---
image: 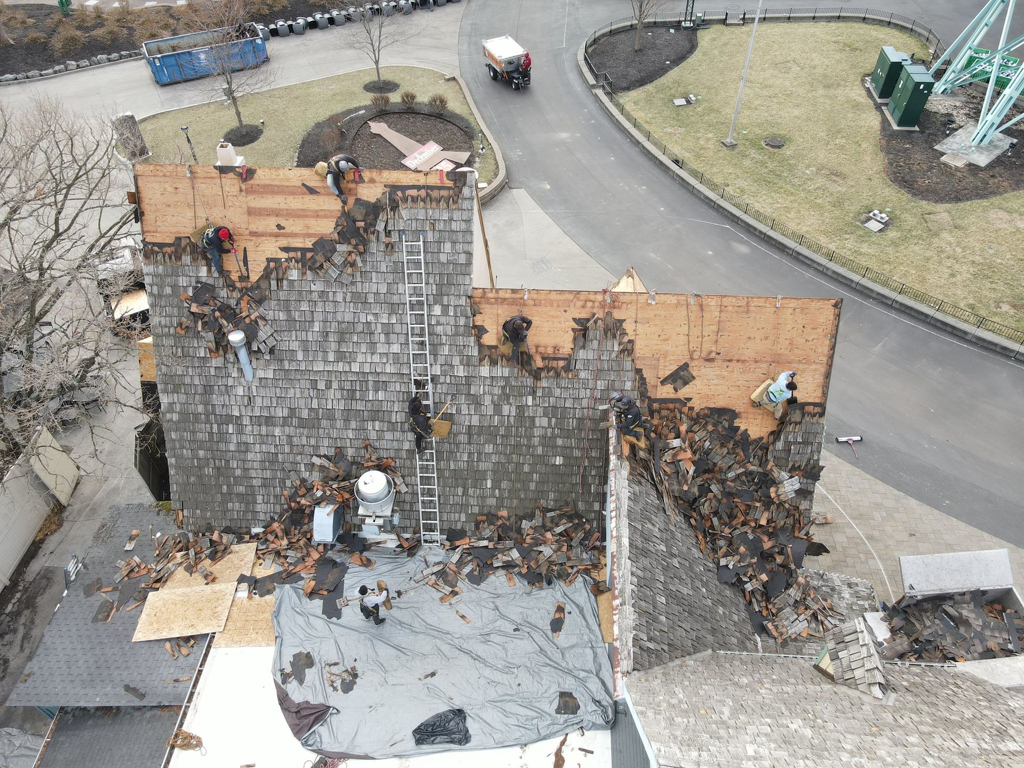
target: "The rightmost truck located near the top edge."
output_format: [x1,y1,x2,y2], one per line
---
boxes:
[476,34,533,94]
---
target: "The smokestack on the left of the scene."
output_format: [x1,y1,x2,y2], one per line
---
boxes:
[214,133,258,165]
